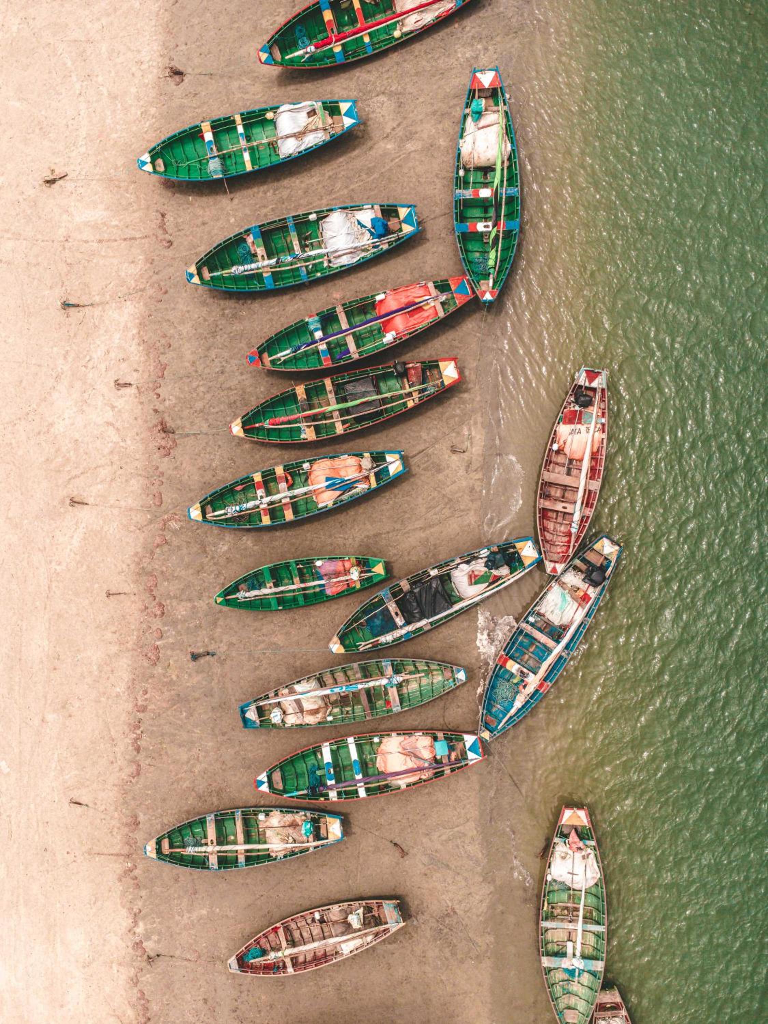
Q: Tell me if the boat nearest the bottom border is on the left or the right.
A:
right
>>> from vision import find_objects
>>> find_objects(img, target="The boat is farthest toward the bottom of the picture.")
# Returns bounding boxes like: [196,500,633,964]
[590,984,631,1024]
